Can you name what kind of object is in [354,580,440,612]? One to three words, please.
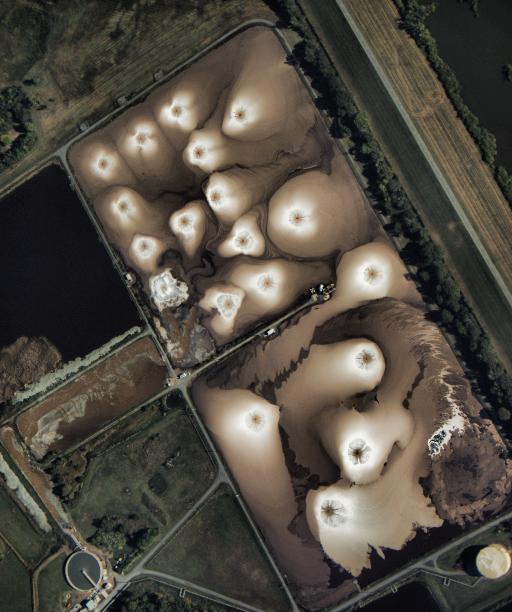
pond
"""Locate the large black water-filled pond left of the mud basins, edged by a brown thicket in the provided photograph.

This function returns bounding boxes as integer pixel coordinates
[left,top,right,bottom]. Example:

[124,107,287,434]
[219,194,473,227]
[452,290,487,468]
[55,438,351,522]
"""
[0,163,144,405]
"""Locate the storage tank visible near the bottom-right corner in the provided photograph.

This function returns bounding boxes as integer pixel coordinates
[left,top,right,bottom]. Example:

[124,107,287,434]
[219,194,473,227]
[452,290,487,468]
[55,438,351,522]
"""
[476,543,512,580]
